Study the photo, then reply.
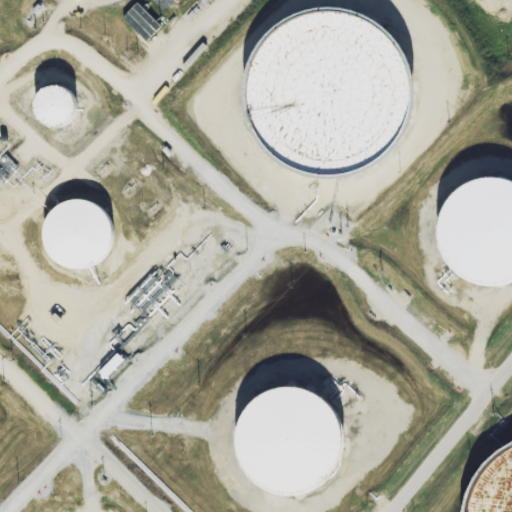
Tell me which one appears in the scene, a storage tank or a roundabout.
storage tank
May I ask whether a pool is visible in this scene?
No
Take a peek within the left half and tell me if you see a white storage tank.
Yes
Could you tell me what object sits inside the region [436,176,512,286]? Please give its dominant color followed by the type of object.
white storage tank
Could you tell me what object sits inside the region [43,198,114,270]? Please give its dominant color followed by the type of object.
white storage tank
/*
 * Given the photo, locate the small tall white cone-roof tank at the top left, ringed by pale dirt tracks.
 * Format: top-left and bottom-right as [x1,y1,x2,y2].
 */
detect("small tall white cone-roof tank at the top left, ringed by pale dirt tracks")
[32,84,78,129]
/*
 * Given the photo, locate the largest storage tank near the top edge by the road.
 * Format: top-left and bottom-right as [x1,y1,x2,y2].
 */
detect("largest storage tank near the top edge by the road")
[242,6,414,177]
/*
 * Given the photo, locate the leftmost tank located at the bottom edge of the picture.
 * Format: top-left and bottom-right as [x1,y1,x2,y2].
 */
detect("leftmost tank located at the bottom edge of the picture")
[234,386,344,496]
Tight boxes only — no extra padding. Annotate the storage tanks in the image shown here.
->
[242,6,414,177]
[43,198,114,270]
[436,176,512,286]
[462,442,512,512]
[32,84,78,129]
[234,386,344,496]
